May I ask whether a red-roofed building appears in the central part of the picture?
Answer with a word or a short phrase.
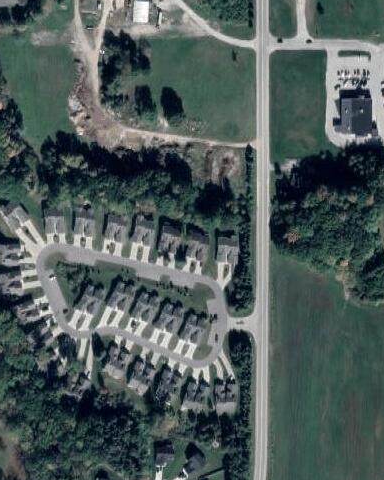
No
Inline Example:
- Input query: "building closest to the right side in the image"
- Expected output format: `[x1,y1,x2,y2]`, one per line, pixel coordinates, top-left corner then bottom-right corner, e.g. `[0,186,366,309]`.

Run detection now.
[335,96,377,138]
